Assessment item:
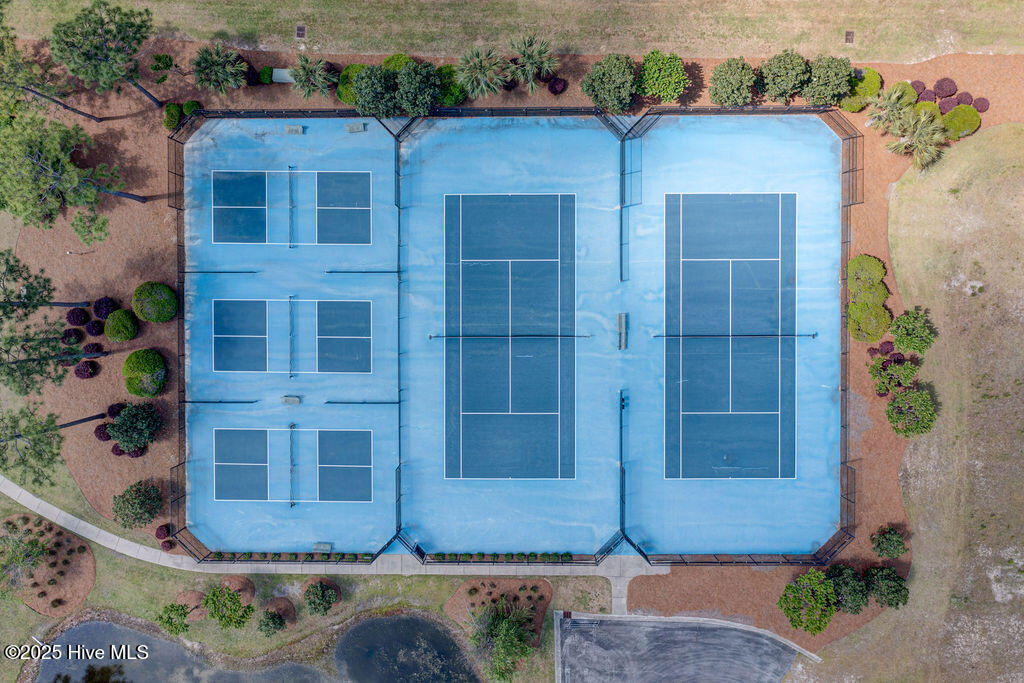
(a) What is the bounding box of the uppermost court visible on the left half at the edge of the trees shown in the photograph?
[184,117,400,272]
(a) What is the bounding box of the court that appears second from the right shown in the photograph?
[400,116,621,554]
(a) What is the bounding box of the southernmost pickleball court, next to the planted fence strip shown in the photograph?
[186,402,400,553]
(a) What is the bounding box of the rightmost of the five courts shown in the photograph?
[620,115,842,554]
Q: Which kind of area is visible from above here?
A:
sports ground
